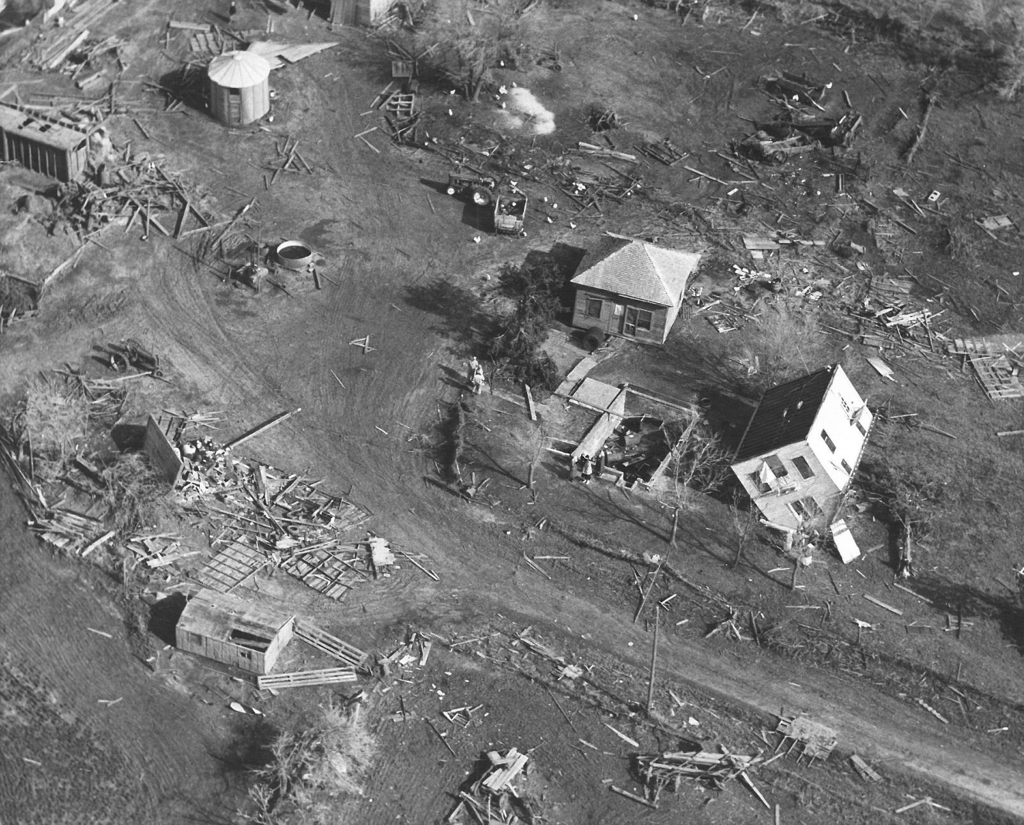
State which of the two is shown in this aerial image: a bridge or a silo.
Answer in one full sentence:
The one in the frame is a silo.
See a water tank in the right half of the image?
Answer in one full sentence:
No, no water tank appears in the right half of the image.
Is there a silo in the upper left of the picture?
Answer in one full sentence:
Yes, in the upper left of the picture there is a silo.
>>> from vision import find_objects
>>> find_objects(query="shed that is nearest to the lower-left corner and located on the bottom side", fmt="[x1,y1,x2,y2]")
[170,580,295,679]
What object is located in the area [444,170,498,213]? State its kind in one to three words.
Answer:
work vehicle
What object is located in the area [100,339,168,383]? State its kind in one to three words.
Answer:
work vehicle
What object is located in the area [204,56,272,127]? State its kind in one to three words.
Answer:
silo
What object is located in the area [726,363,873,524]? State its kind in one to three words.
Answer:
house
